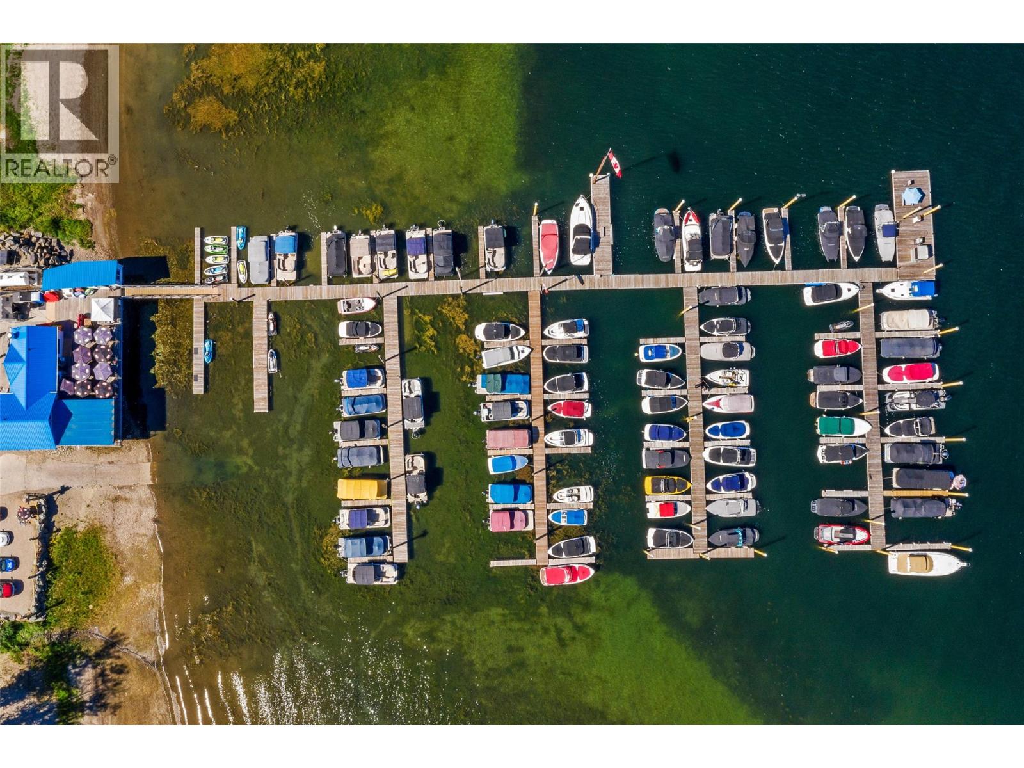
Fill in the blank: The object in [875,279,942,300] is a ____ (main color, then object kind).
white boat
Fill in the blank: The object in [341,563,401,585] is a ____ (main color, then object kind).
gray boat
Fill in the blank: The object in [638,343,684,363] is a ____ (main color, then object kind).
blue boat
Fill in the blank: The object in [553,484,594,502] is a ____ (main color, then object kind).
white boat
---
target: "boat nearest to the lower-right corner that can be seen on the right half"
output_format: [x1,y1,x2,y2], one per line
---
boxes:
[885,551,972,576]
